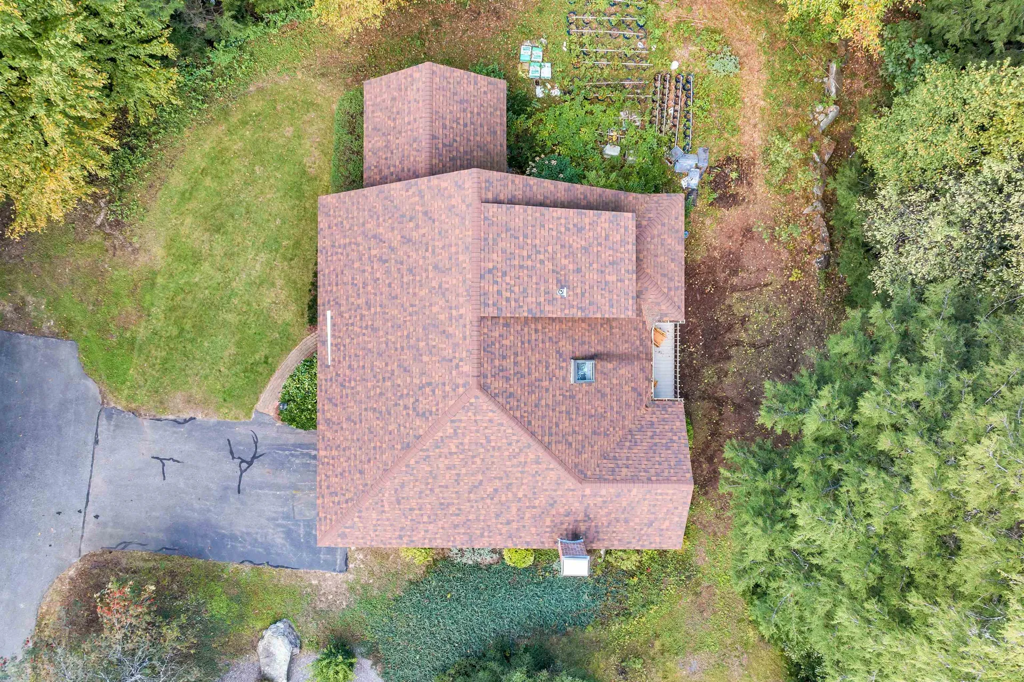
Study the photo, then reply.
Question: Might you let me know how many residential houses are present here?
1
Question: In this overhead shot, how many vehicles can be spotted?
none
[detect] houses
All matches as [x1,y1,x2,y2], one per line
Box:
[316,62,696,576]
